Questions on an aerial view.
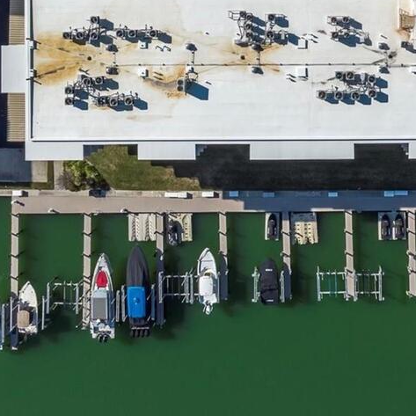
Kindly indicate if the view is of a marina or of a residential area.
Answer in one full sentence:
What you see here is a marina.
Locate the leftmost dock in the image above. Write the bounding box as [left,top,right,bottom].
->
[7,214,25,349]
